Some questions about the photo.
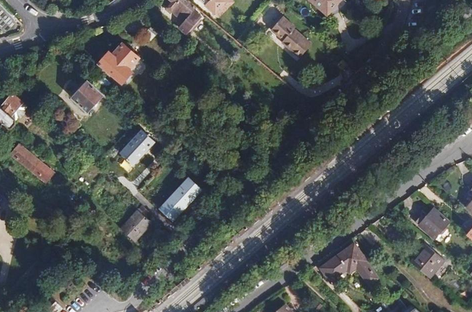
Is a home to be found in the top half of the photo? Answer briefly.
Yes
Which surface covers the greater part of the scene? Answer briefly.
trees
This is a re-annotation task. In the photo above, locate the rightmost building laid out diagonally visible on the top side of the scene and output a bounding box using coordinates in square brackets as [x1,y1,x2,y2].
[272,15,312,54]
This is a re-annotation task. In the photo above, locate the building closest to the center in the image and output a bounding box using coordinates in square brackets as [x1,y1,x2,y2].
[159,178,201,221]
